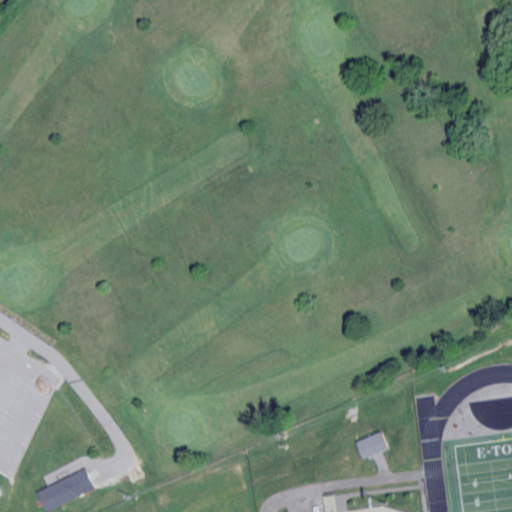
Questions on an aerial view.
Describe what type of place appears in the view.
golf course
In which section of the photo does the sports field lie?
bottom right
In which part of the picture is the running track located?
bottom right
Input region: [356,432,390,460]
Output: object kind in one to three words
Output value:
house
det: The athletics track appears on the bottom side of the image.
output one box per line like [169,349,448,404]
[416,364,512,512]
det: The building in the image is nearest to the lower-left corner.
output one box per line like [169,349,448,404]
[36,468,95,512]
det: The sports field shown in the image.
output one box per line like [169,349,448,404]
[442,436,512,512]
